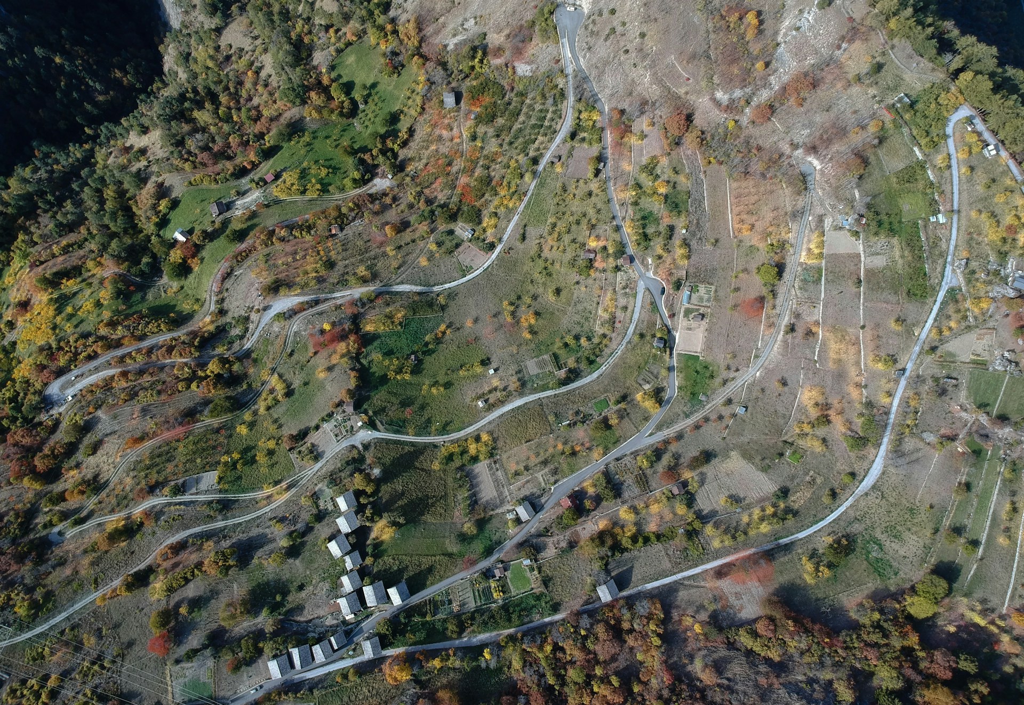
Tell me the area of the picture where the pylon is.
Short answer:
bottom left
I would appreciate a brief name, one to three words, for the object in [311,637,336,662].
barn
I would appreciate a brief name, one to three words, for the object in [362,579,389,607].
barn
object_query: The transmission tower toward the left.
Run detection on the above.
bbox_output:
[0,621,42,656]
